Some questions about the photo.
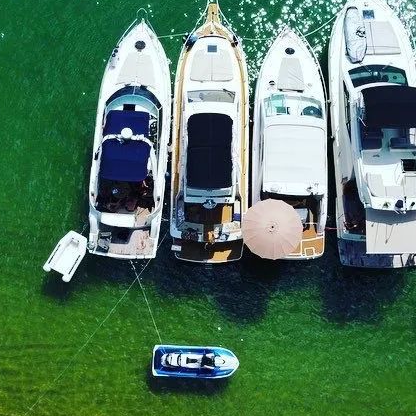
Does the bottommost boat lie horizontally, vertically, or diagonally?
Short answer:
horizontally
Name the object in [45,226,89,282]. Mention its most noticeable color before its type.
white boat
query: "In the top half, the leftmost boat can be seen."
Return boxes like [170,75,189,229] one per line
[87,10,171,262]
